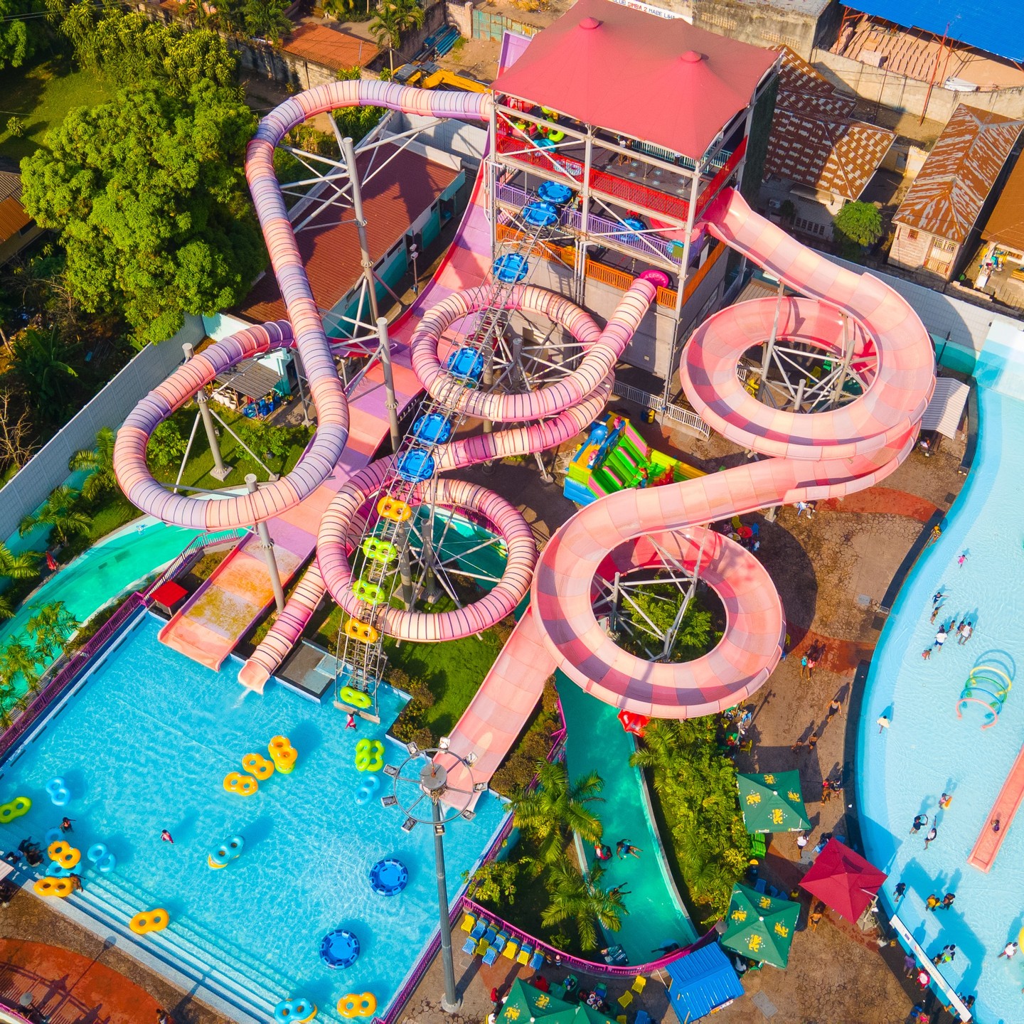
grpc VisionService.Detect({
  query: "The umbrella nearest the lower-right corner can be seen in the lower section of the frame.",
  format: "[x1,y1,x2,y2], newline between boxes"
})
[799,839,889,941]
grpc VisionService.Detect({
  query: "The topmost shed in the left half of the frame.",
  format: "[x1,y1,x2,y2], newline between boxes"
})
[281,23,380,78]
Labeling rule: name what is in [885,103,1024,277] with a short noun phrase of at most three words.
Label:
house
